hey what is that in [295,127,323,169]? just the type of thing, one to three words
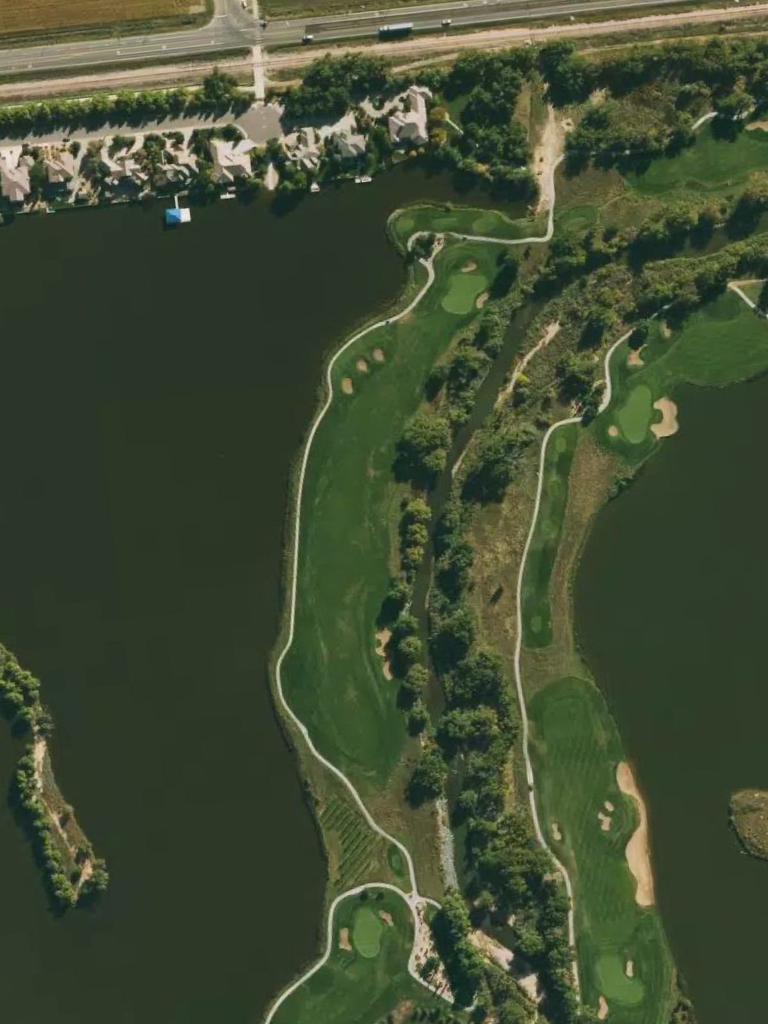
house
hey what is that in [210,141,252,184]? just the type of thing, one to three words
house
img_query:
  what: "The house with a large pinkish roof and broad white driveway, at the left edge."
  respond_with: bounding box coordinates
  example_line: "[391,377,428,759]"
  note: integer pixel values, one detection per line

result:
[0,154,33,201]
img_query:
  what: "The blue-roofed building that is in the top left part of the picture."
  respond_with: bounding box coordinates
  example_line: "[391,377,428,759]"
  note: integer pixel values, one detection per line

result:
[165,207,191,225]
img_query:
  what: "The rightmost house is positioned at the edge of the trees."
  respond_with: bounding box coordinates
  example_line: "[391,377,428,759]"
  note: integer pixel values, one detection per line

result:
[388,86,428,144]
